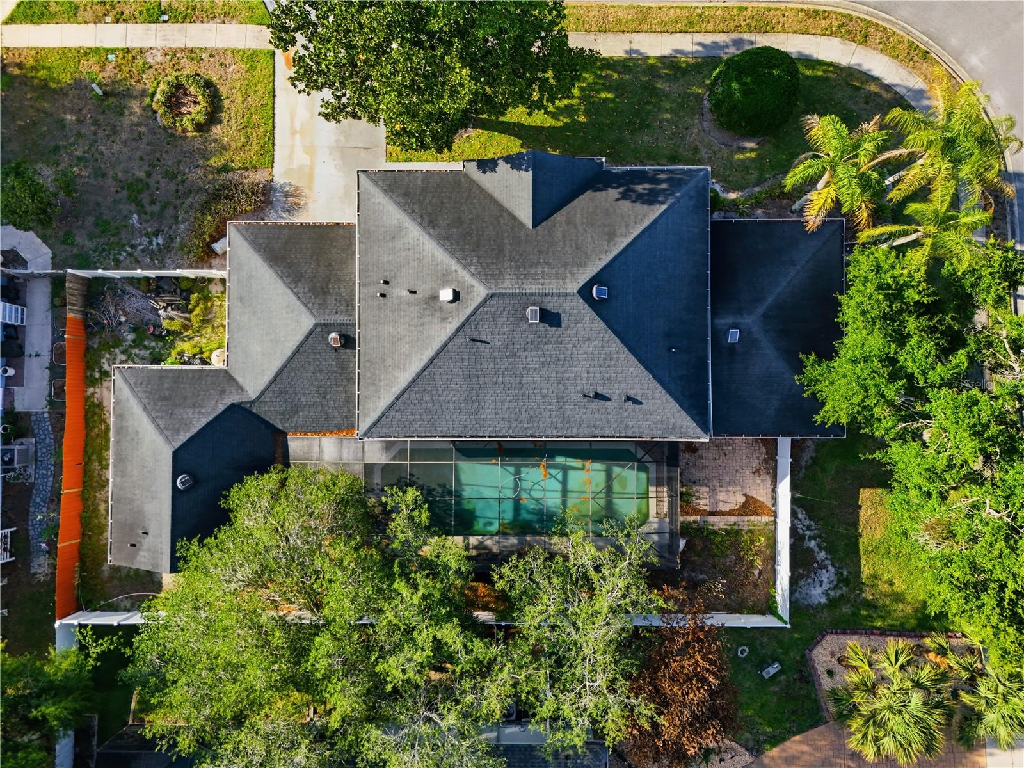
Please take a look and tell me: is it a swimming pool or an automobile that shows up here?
swimming pool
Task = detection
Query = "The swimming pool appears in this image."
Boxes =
[374,442,656,542]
